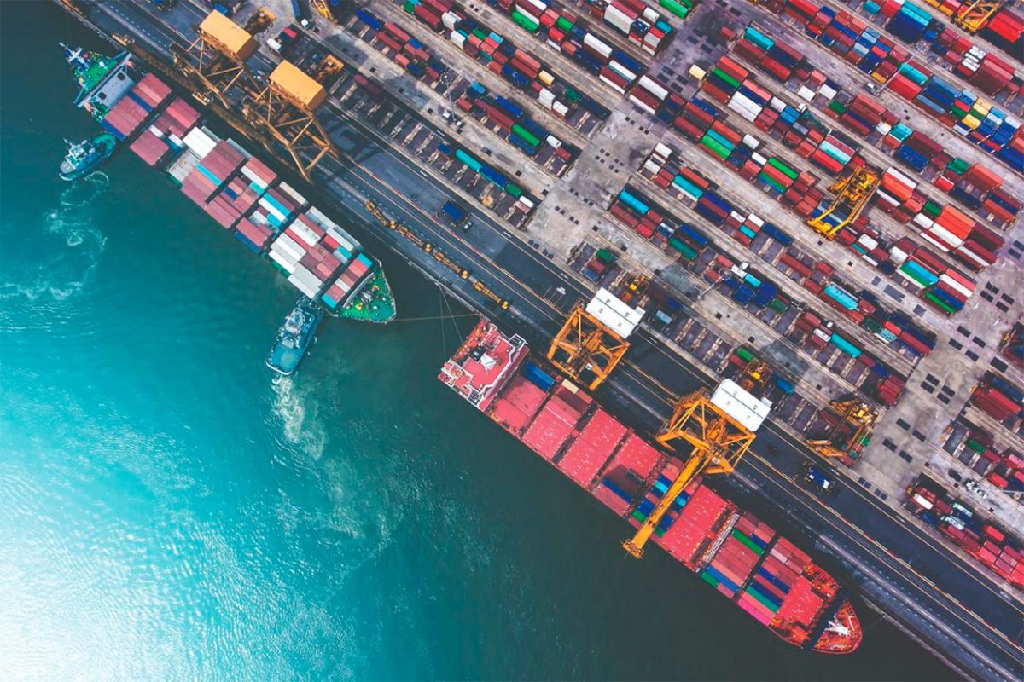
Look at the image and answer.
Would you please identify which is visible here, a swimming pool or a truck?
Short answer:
truck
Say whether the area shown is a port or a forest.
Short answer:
port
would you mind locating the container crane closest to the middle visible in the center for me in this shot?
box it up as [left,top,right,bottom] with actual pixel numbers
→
[542,285,647,395]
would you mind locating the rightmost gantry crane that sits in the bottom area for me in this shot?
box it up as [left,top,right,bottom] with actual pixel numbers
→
[796,392,875,456]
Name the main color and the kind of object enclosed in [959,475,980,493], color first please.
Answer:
white vehicle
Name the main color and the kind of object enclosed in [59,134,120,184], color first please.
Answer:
blue boat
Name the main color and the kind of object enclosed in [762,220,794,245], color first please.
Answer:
blue shipping container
